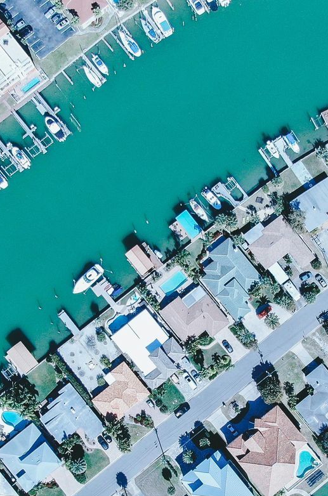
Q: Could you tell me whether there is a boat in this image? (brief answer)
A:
Yes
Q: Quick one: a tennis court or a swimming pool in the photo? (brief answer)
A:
swimming pool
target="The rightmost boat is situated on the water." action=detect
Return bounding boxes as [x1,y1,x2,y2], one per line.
[284,132,298,152]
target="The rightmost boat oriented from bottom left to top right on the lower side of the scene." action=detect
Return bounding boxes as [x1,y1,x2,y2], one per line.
[127,291,143,304]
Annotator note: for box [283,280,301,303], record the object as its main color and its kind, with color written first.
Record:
white camper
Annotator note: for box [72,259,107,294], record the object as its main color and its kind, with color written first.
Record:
white boat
